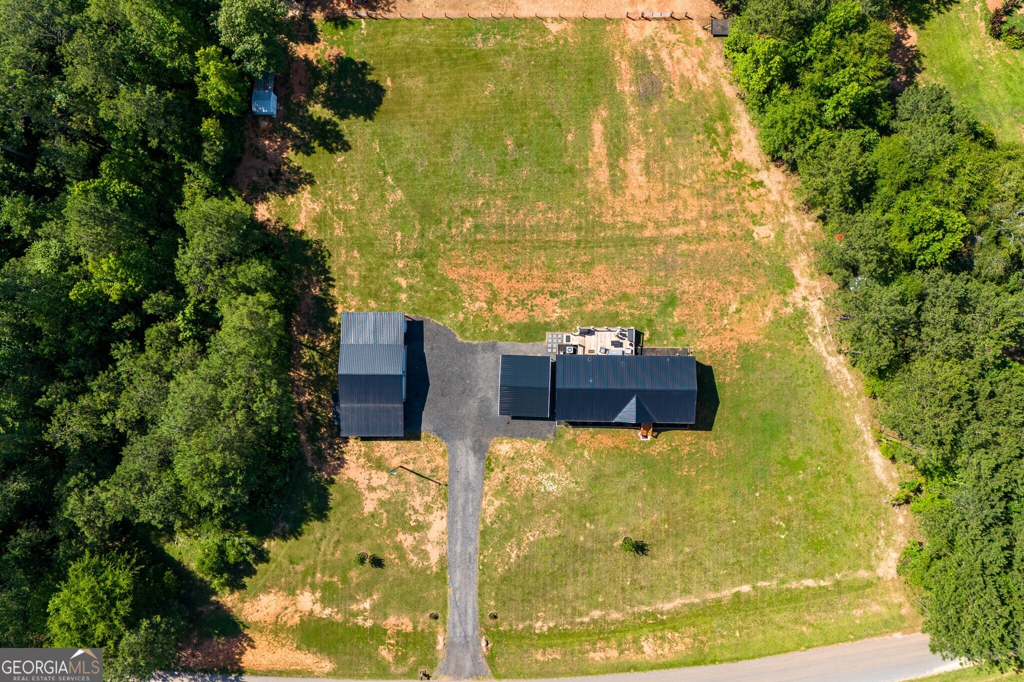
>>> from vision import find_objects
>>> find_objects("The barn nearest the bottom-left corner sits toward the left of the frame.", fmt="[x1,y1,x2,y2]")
[338,312,406,436]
